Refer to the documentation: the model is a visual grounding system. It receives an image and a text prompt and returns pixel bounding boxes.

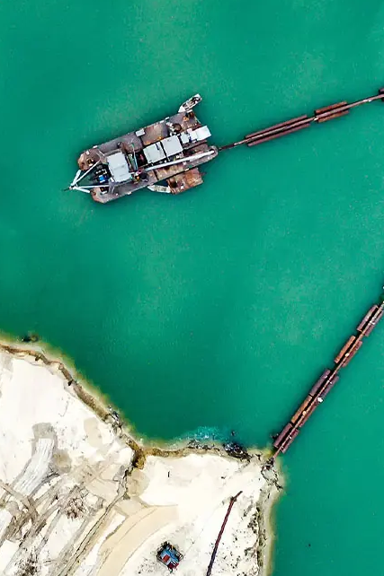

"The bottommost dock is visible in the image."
[266,423,300,464]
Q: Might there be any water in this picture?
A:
Yes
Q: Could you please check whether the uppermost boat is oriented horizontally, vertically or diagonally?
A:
diagonally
